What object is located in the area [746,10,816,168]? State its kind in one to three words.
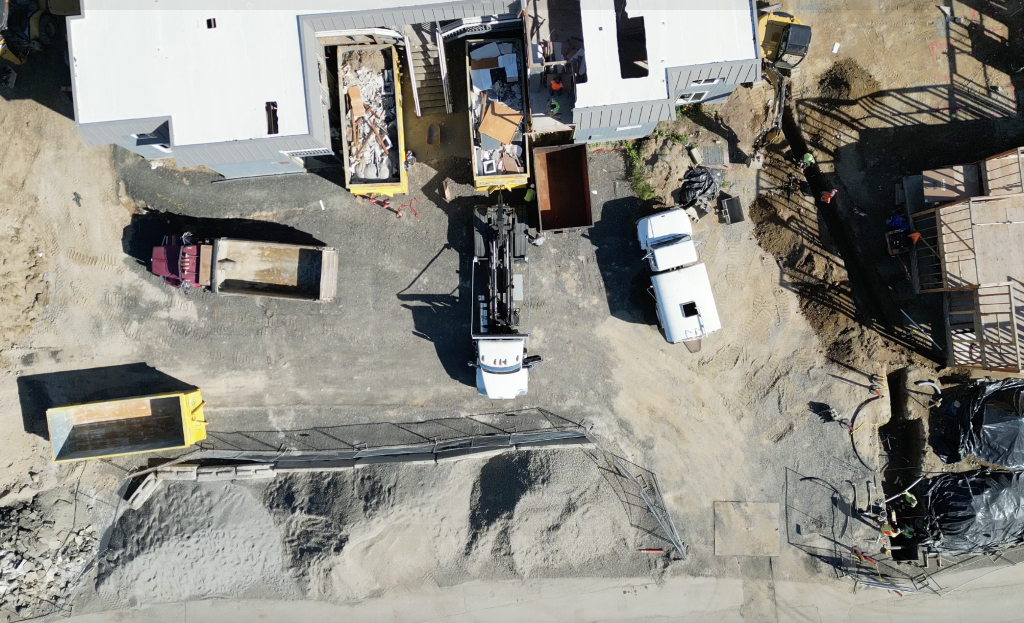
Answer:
work vehicle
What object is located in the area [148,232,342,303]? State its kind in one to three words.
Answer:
truck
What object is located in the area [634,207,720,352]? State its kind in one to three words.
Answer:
truck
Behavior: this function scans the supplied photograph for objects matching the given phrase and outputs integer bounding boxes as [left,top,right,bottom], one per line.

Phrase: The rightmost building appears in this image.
[896,147,1024,379]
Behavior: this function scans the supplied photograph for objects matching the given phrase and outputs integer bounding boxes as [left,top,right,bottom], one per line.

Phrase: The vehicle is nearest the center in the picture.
[469,184,539,399]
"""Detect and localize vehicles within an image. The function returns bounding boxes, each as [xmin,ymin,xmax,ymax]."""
[634,207,720,352]
[746,10,816,168]
[0,0,62,66]
[148,232,342,303]
[469,184,539,399]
